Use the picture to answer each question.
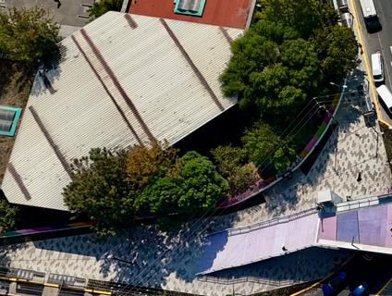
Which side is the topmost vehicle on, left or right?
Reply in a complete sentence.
It is on the right.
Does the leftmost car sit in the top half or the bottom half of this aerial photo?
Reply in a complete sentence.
The leftmost car sits in the bottom half of the picture.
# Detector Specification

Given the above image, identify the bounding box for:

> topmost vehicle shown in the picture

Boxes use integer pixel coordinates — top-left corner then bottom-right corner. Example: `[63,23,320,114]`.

[361,0,382,23]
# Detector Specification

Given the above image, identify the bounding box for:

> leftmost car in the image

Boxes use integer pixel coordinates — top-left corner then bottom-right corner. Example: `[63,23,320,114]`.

[320,267,350,296]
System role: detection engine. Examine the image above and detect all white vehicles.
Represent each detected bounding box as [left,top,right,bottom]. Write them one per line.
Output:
[371,52,386,84]
[361,0,382,23]
[375,84,392,118]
